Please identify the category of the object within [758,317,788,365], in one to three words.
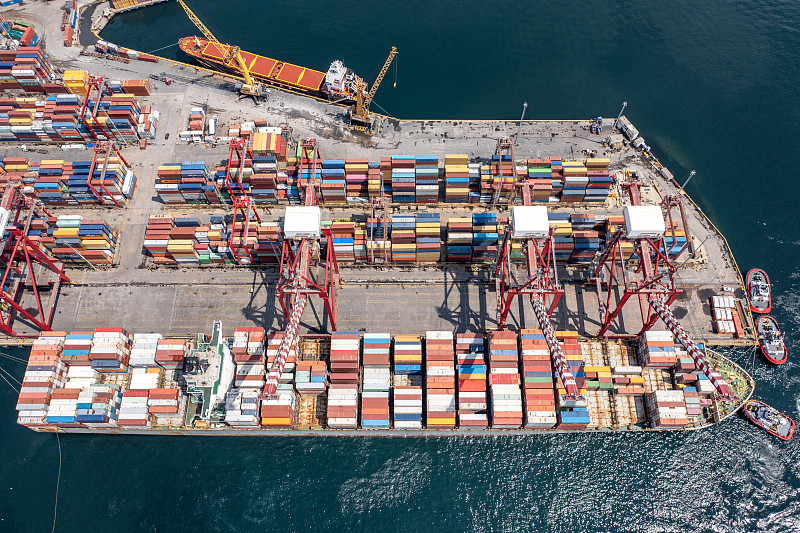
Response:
boat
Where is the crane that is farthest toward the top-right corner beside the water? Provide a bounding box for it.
[659,198,695,264]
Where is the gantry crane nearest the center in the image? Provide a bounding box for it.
[370,199,388,266]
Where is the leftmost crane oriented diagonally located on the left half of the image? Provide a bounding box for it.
[177,0,260,98]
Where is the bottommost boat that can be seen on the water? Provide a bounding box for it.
[741,402,798,443]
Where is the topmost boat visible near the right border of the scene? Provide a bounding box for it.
[745,269,773,313]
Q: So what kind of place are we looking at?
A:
port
